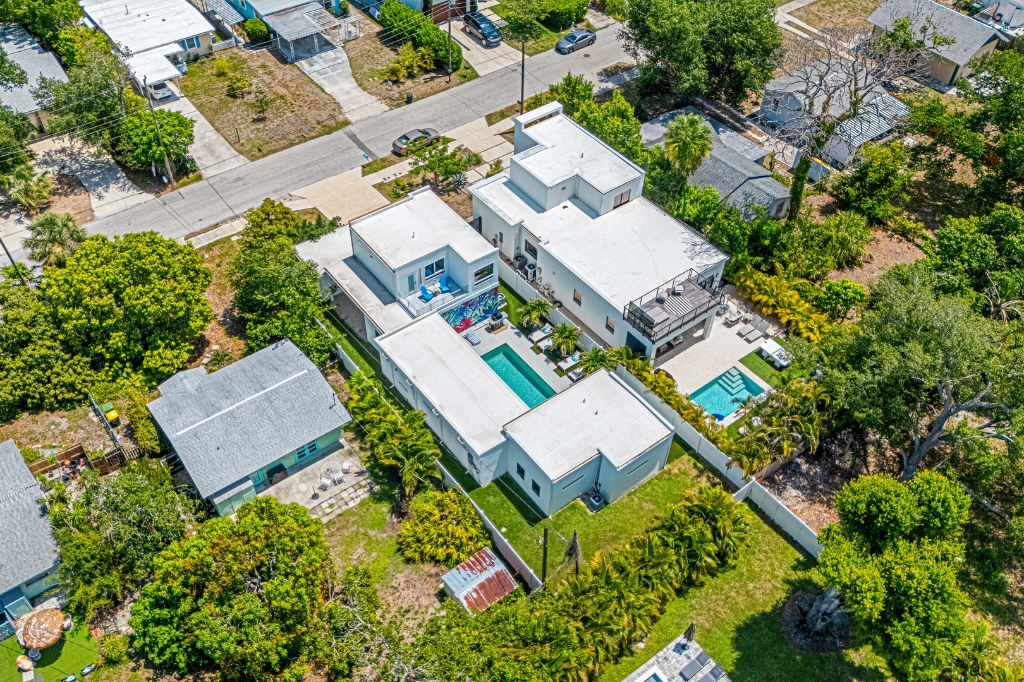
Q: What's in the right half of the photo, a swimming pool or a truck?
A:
swimming pool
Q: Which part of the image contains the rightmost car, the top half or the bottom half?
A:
top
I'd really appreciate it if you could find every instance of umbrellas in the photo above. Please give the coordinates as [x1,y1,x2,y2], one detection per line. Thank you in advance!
[18,606,71,654]
[682,627,695,650]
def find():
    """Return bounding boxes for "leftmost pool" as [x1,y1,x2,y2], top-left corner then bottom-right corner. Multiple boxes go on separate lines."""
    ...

[483,345,556,408]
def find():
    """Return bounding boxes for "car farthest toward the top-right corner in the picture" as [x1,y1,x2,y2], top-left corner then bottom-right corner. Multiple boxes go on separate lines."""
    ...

[557,30,595,52]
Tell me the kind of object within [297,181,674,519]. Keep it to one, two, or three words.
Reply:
house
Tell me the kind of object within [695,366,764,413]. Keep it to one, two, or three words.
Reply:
swimming pool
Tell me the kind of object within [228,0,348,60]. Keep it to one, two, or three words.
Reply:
house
